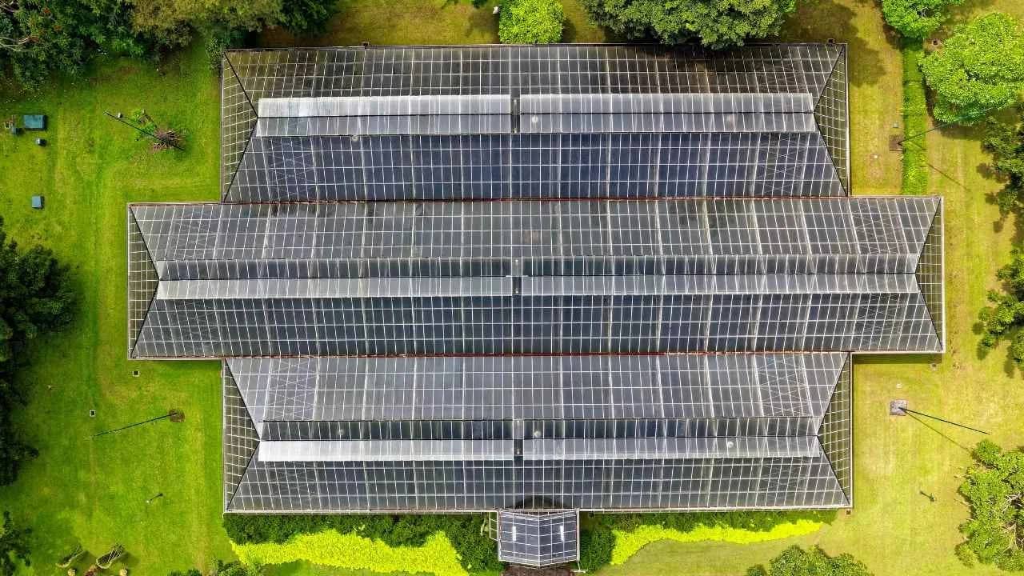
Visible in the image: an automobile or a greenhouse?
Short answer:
greenhouse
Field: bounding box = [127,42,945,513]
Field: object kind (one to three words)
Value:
greenhouse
